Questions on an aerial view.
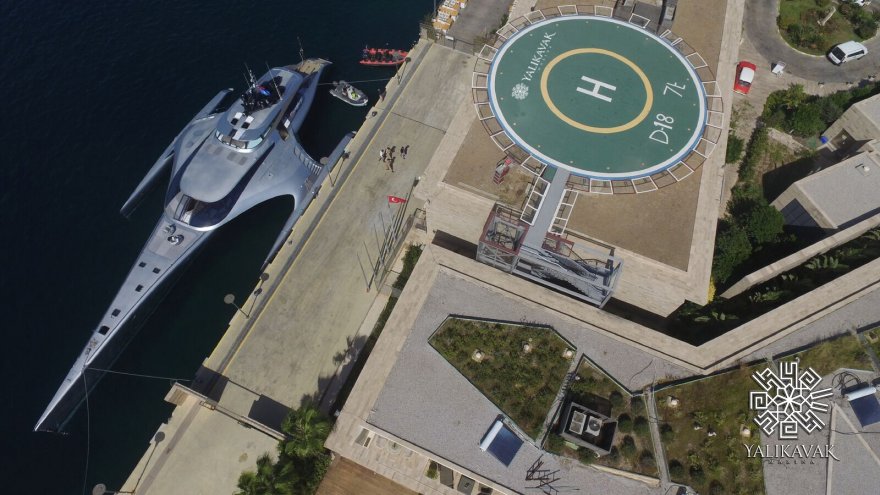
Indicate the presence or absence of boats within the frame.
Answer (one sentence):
Yes, a boat is visible in the scene.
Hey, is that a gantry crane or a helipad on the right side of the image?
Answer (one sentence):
It is a helipad that can be seen on the right side of the image.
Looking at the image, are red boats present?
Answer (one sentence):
Yes, the frame does contain a red boat.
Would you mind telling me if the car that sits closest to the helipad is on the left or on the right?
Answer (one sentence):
The car that sits closest to the helipad appears in the right half of the scene.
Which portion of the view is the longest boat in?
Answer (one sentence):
Look in the left portion of the view to spot the longest boat.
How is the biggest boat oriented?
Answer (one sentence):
The biggest boat runs on a diagonal in the image.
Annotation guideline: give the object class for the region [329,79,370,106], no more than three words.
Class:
boat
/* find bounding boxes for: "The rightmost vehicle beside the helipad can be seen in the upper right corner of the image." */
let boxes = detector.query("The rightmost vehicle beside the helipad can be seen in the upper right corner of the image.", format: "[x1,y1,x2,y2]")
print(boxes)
[734,58,760,95]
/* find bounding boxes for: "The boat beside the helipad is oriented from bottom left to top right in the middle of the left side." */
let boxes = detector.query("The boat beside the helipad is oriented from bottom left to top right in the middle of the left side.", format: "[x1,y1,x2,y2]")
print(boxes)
[31,41,358,431]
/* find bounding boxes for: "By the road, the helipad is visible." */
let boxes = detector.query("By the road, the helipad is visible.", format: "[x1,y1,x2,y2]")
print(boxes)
[472,4,724,194]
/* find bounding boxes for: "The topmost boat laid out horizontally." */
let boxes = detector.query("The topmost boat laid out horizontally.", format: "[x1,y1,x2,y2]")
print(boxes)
[358,46,410,67]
